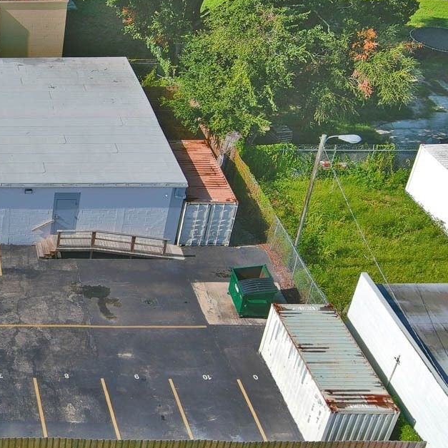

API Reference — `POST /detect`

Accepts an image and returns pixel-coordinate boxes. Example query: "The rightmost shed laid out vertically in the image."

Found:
[407,147,448,238]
